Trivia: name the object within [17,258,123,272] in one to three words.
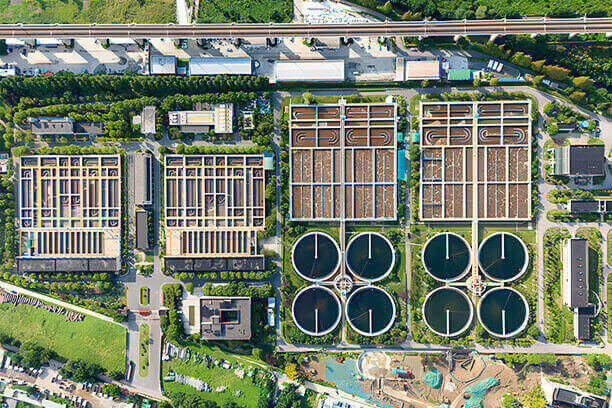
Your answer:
house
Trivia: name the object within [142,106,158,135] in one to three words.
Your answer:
building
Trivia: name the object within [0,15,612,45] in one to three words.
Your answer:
bridge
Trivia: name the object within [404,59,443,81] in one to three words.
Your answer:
shed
